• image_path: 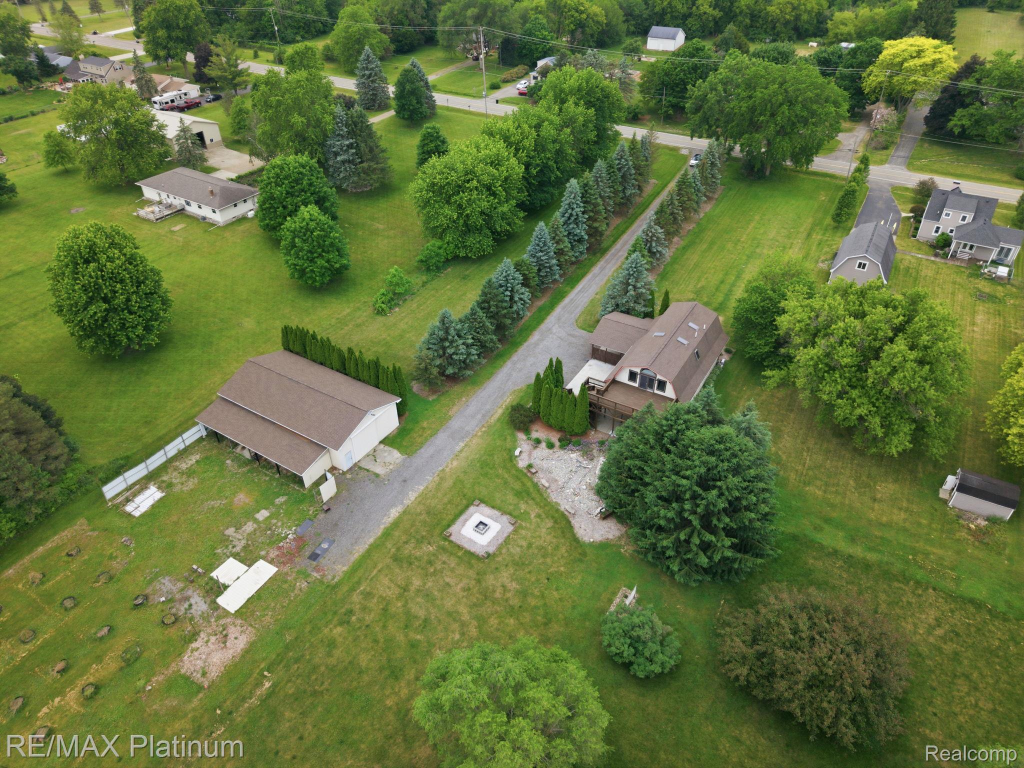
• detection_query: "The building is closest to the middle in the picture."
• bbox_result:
[564,301,727,427]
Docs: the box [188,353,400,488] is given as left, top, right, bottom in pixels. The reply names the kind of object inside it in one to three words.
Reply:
barn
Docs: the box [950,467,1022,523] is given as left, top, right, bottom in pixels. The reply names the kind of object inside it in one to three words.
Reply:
shed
